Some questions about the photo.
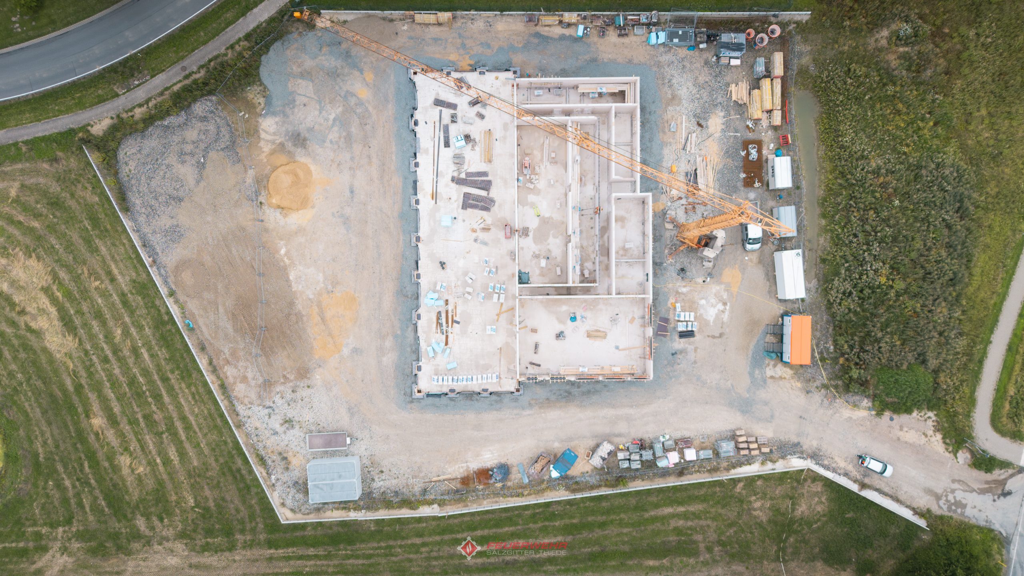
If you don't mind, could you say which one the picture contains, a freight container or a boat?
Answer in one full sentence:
The image shows a freight container.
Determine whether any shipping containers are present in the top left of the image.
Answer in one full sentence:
No, in the top left of the image there is no shipping container.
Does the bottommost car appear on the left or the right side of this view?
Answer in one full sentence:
It is on the right.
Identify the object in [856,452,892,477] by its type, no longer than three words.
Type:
car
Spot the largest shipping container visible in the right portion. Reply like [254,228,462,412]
[783,314,811,364]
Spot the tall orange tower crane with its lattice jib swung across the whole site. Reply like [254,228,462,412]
[297,13,795,263]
